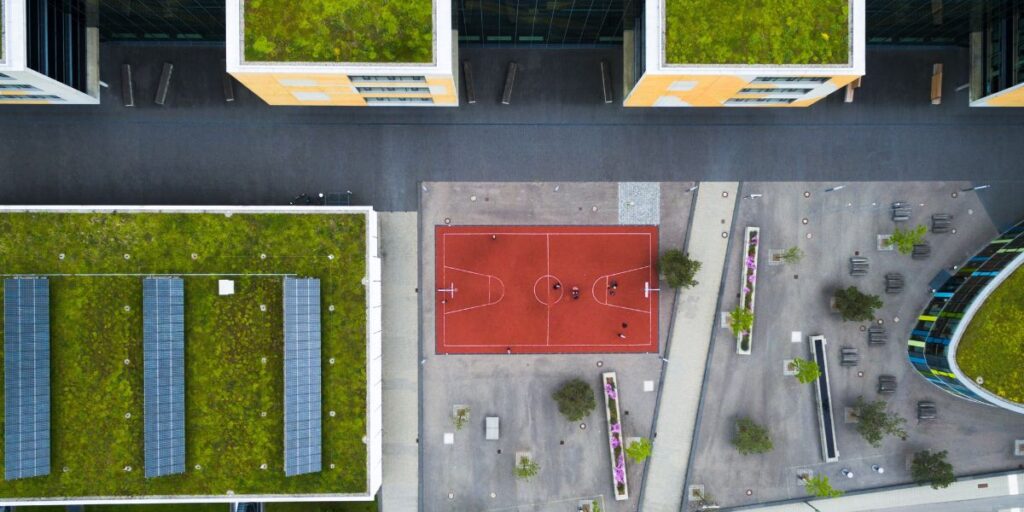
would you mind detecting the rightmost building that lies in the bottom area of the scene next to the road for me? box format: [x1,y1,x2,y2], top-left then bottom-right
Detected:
[907,221,1024,414]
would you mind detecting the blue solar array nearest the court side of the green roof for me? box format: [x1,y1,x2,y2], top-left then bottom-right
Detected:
[282,275,321,480]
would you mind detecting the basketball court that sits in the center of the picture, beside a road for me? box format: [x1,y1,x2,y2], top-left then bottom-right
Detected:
[435,225,659,355]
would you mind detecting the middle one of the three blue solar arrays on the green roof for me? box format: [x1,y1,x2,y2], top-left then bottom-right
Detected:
[142,275,186,479]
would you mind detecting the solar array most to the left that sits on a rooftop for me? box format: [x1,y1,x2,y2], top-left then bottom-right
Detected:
[4,275,52,480]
